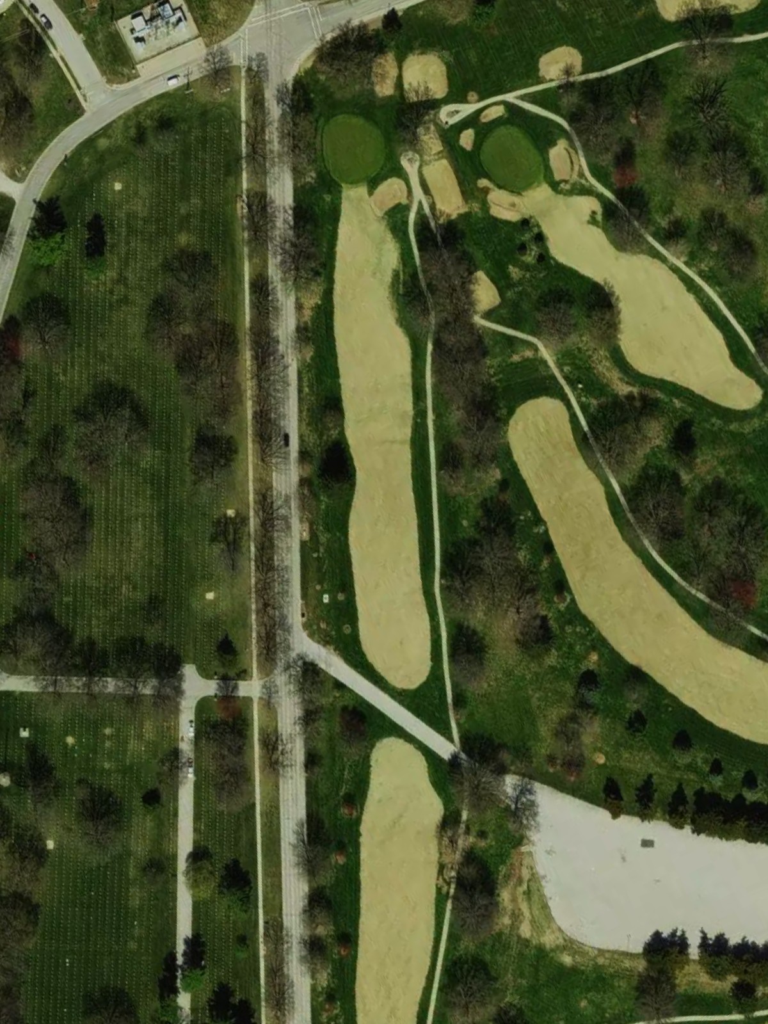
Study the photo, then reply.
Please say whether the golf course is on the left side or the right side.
right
